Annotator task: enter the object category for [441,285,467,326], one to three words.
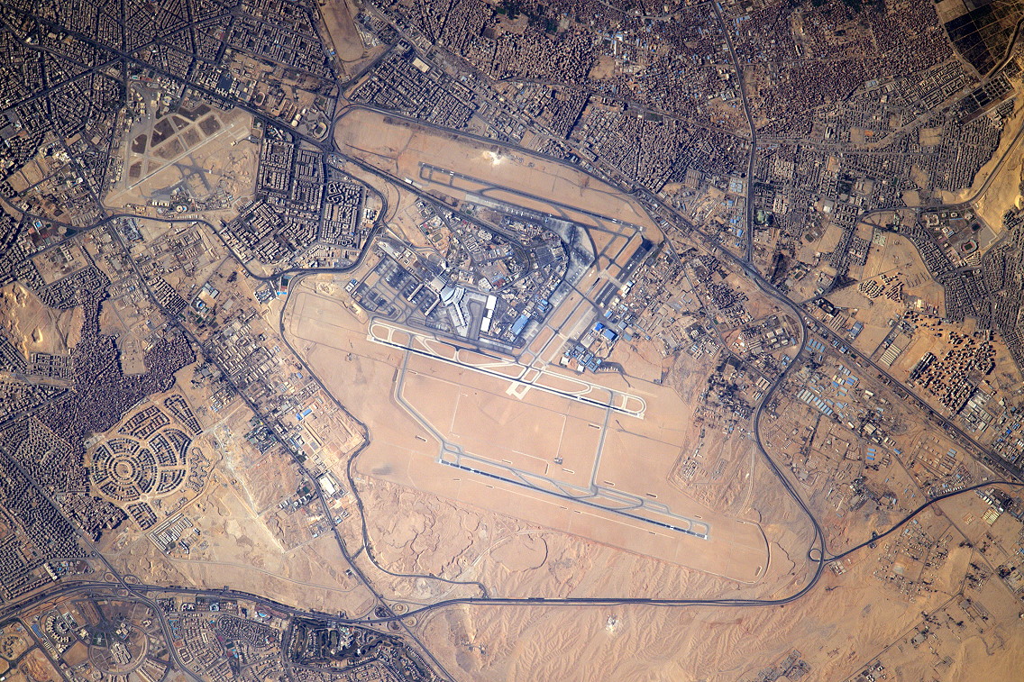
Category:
building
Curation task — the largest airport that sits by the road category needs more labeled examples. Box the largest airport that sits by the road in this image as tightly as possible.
[352,161,758,568]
